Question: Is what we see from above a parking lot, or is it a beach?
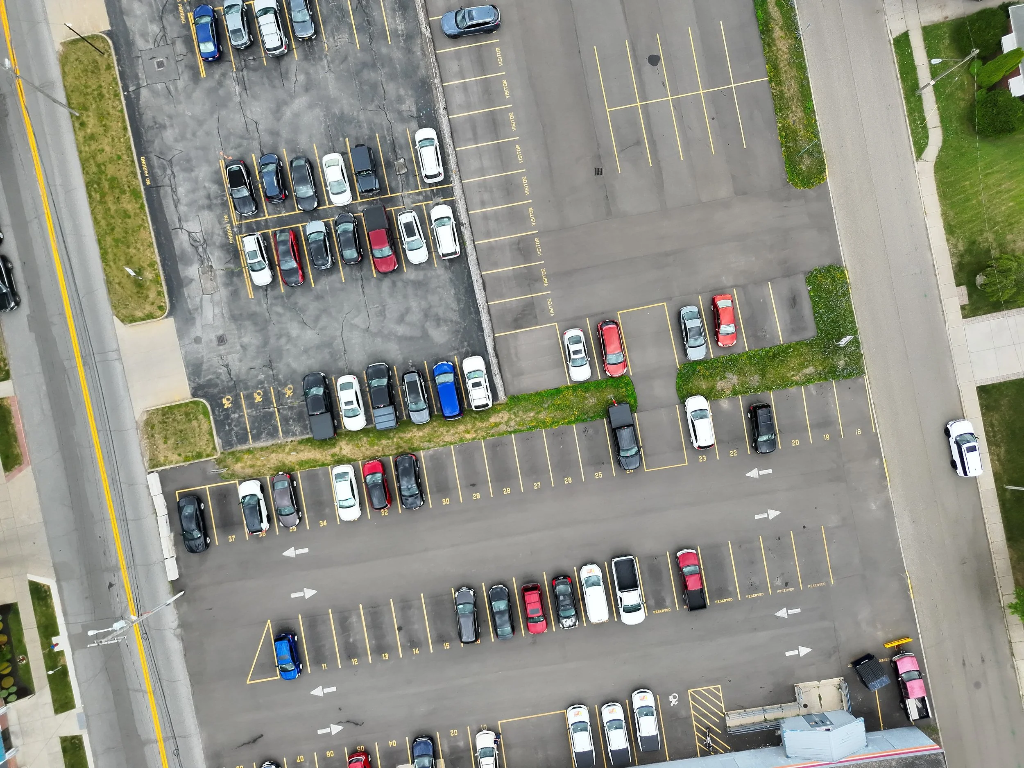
parking lot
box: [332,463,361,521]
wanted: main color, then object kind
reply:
white car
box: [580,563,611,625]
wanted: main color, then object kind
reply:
white van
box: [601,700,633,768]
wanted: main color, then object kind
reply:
white truck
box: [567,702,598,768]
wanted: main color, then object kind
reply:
white truck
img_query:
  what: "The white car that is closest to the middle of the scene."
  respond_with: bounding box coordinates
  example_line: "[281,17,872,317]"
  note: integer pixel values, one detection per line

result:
[463,355,493,412]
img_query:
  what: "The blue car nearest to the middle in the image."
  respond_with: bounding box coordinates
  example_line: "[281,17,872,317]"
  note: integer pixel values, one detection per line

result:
[433,361,465,422]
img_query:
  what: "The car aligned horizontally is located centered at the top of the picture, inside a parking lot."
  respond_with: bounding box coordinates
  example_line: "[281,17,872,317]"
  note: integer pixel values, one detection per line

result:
[440,5,502,38]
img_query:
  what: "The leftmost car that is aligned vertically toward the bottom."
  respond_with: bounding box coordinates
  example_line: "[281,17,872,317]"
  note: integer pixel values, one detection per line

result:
[177,494,209,553]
